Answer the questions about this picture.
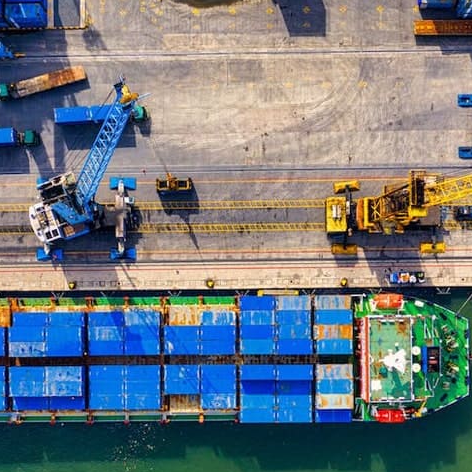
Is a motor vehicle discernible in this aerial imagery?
Yes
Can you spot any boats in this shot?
Yes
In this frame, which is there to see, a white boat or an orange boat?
orange boat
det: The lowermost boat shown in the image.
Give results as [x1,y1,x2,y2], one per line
[372,400,406,423]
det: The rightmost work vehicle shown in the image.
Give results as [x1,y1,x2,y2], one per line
[452,207,472,221]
